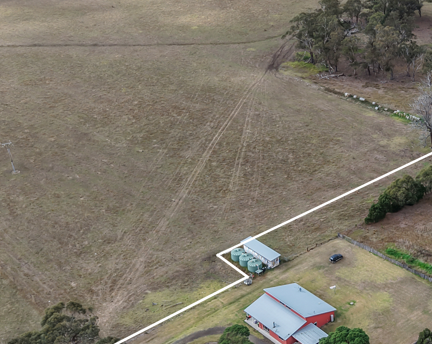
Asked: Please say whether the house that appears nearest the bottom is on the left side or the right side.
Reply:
right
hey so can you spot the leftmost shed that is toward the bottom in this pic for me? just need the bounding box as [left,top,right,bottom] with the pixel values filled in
[241,237,282,267]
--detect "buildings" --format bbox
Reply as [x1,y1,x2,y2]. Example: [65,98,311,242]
[244,280,337,344]
[241,237,282,267]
